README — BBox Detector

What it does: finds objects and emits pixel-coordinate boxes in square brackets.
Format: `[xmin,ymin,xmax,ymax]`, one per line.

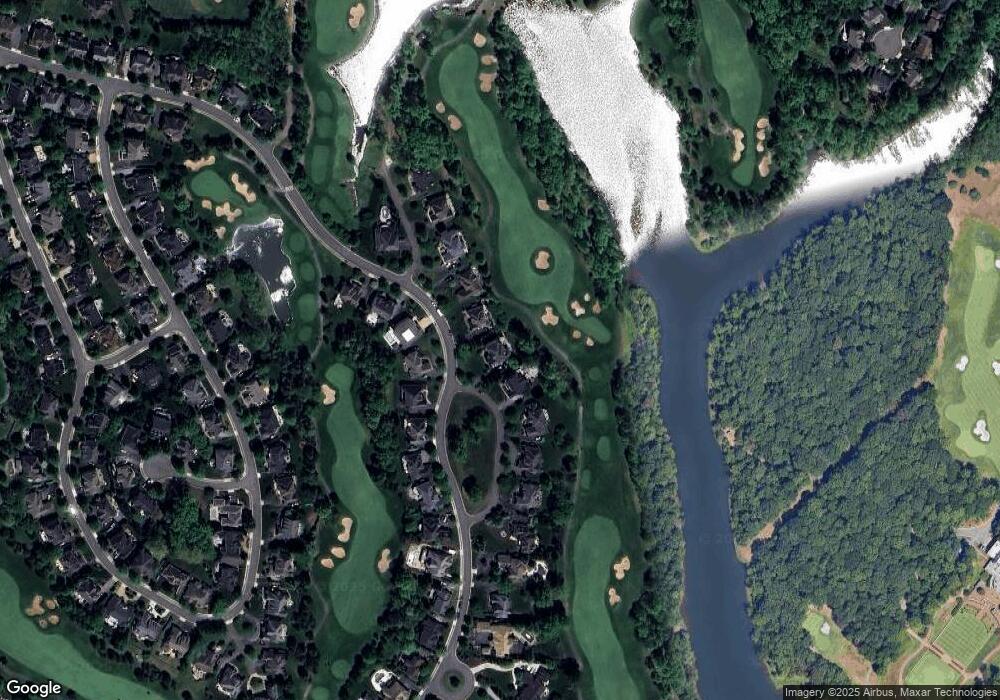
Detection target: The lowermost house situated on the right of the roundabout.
[512,665,560,700]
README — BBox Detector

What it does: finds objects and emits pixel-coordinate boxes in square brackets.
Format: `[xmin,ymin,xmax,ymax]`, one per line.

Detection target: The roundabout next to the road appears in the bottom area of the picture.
[431,658,476,700]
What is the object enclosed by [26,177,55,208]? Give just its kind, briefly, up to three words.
house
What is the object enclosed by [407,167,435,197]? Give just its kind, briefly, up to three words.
house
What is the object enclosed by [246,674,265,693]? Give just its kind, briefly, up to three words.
swimming pool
